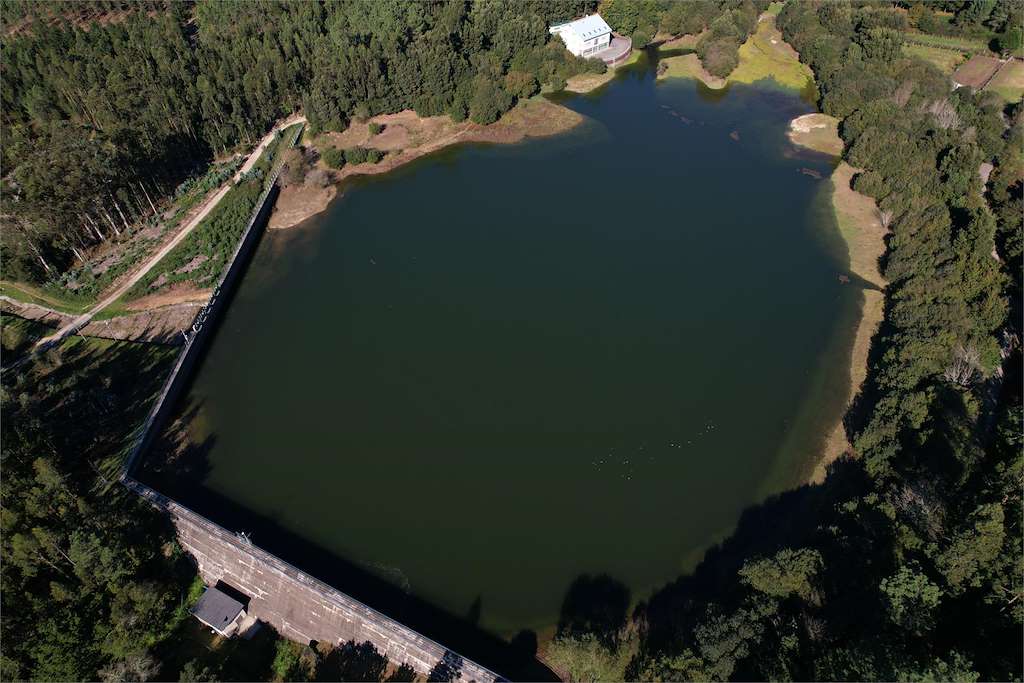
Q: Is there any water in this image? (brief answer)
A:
Yes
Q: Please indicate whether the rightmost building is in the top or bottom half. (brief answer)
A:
top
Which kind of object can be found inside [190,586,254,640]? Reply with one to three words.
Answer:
building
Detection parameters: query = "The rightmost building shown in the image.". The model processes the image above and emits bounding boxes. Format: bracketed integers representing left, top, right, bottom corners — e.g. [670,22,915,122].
[549,12,612,57]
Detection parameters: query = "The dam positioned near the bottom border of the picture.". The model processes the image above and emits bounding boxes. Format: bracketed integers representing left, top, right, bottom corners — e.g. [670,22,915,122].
[114,473,514,683]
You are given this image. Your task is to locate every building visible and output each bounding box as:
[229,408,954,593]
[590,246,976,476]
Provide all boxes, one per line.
[549,12,612,57]
[190,586,254,640]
